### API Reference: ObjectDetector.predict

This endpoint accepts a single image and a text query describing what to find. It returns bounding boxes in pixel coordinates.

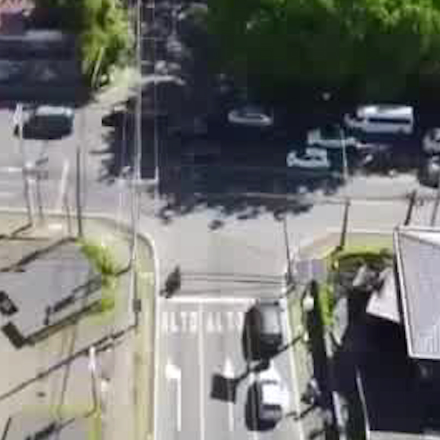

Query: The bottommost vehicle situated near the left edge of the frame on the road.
[18,106,78,137]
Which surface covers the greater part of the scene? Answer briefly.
paved ground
